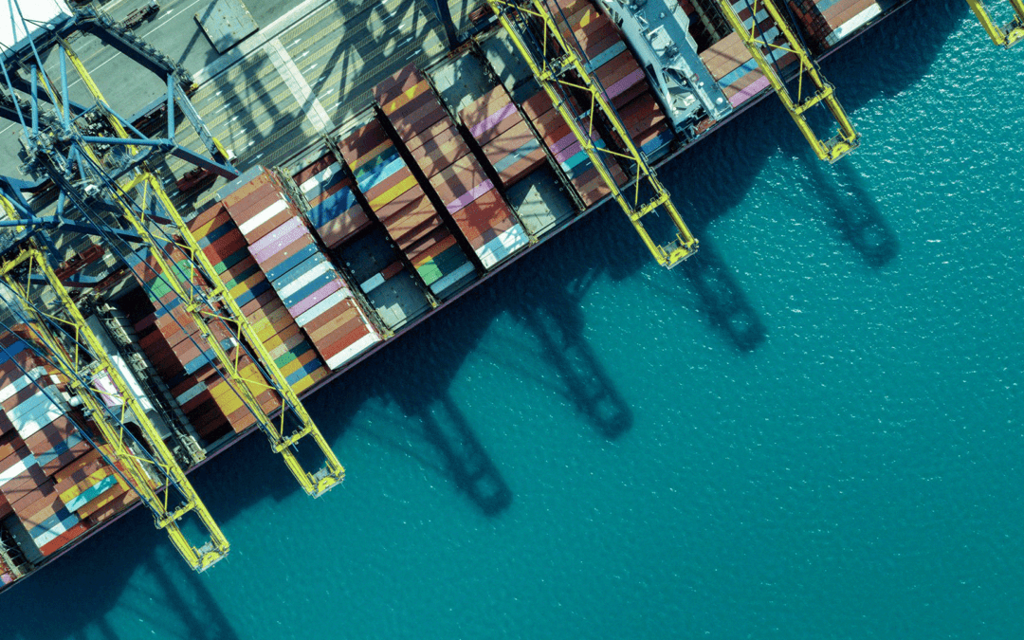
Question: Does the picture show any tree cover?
No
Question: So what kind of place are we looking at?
port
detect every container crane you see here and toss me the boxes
[710,0,862,166]
[0,0,349,498]
[0,90,235,575]
[419,0,699,272]
[959,0,1024,52]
